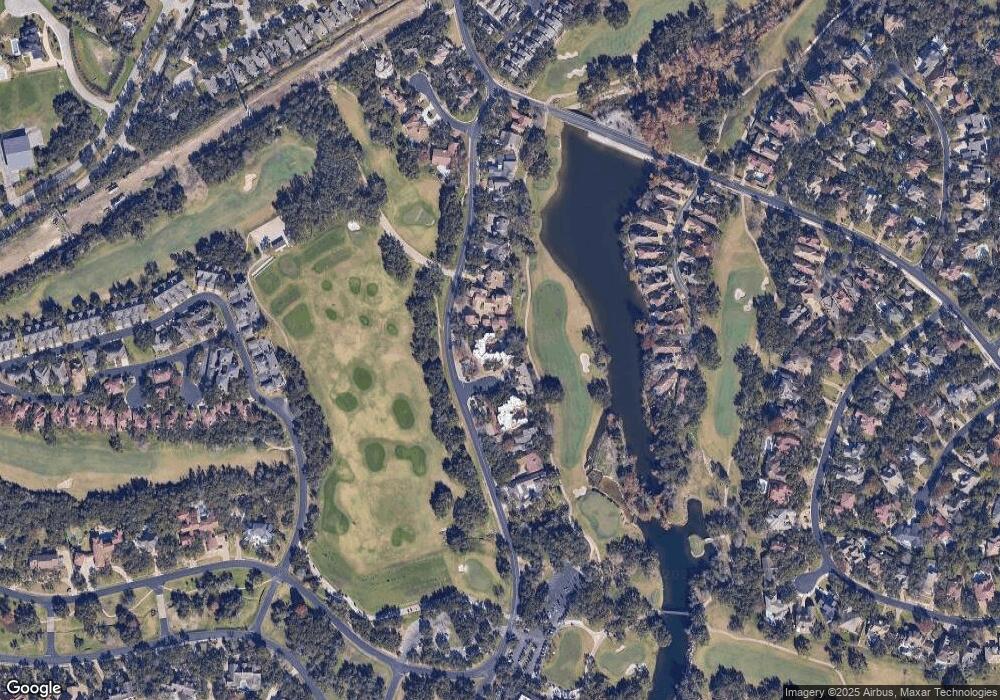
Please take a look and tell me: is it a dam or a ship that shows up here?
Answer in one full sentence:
Looking from above, you can make out a dam.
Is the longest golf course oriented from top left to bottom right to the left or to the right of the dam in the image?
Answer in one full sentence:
The longest golf course oriented from top left to bottom right is to the left of the dam.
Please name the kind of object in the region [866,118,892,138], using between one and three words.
house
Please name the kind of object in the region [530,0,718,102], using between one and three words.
golf course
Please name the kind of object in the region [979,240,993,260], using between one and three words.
swimming pool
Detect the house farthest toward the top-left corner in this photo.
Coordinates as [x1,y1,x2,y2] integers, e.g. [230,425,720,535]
[20,21,42,56]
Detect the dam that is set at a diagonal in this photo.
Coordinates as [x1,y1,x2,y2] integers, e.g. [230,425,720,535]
[567,104,652,162]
